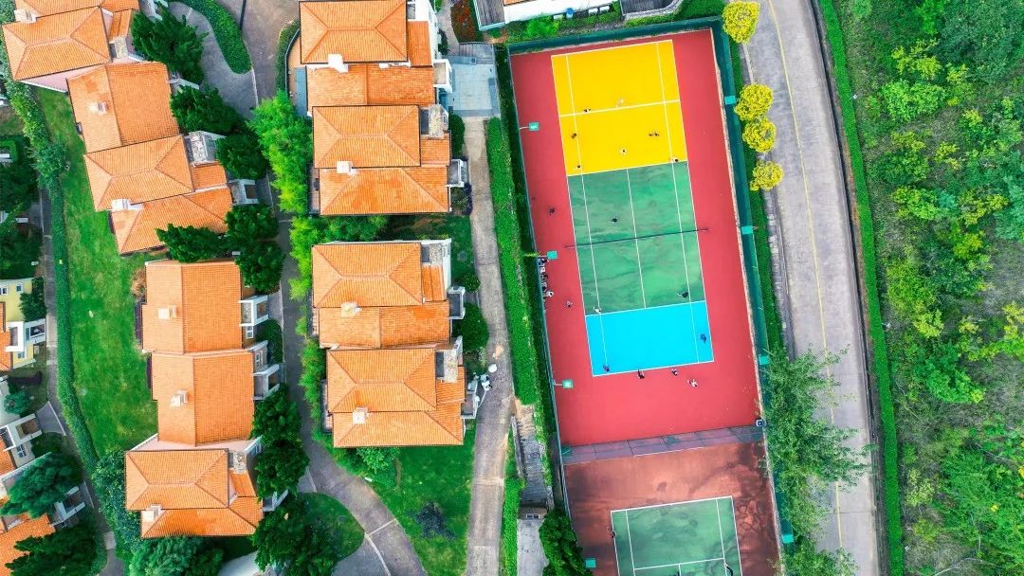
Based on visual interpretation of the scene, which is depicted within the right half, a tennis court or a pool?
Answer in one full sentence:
Visible within the right half is a tennis court.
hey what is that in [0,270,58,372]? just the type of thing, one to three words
house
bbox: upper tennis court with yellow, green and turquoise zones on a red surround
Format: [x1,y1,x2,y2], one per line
[514,29,763,445]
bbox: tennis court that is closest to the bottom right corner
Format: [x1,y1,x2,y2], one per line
[567,434,783,576]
